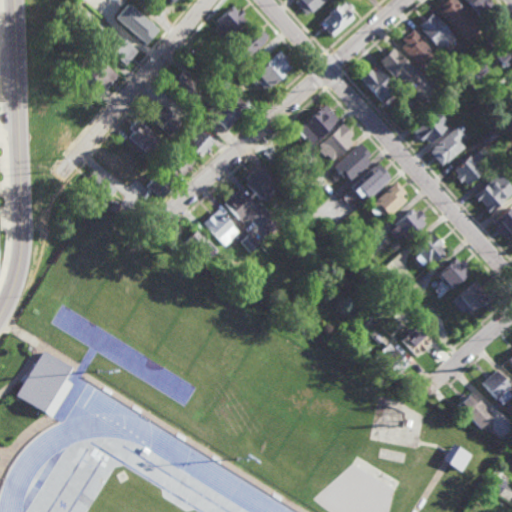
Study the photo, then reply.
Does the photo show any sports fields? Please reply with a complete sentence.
Yes, there's a sports field here.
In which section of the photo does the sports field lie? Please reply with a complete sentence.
The sports field is located in the bottom region of the scene.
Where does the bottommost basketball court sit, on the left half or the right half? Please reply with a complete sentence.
The bottommost basketball court is on the right side of the image.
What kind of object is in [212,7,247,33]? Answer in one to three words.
house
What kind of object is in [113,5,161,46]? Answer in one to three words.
house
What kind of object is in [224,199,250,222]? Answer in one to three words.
building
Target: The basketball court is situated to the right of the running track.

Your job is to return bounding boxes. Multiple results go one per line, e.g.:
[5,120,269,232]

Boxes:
[314,456,399,512]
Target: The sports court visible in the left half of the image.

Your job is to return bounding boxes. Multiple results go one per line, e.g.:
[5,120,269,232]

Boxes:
[52,306,196,406]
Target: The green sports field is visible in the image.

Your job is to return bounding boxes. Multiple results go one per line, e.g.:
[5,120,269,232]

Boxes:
[65,262,372,505]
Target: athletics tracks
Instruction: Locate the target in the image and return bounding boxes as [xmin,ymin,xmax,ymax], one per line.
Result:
[0,374,298,512]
